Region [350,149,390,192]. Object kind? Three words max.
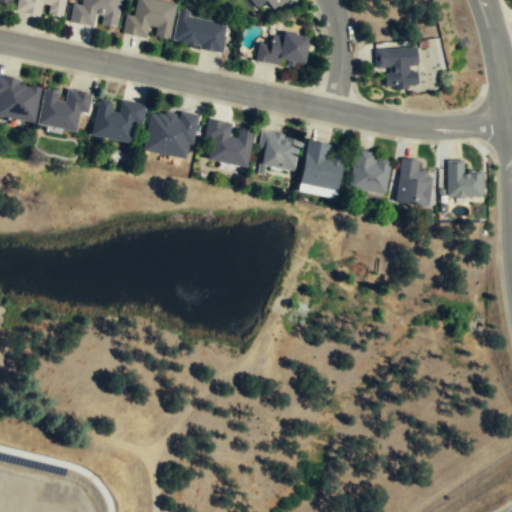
house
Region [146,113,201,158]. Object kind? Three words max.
house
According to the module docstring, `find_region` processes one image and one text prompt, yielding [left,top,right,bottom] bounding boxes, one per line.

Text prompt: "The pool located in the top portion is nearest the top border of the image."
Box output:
[244,26,262,48]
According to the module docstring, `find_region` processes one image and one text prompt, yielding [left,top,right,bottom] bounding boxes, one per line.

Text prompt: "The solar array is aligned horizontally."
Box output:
[0,454,68,475]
